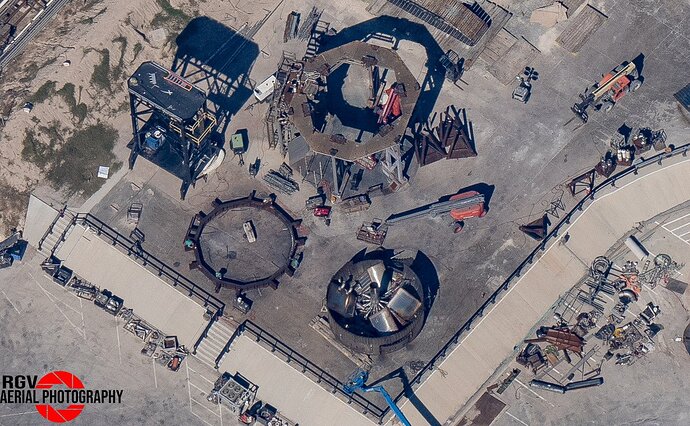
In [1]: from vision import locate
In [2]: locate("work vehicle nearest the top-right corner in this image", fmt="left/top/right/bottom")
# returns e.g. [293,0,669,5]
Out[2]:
[571,61,644,125]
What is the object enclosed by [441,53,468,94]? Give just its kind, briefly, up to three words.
work vehicle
